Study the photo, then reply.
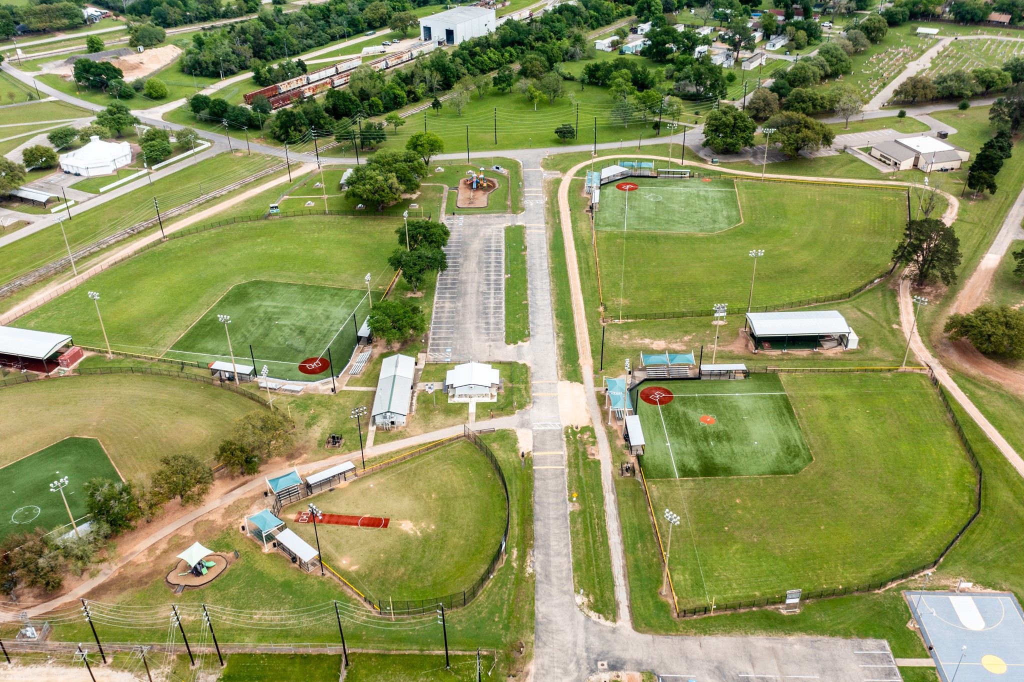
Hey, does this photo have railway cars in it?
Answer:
Yes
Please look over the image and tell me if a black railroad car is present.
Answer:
No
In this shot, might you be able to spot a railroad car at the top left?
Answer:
Yes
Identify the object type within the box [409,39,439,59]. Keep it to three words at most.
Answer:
rail car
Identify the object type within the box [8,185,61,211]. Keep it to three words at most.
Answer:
building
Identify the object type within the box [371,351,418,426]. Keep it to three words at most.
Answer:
building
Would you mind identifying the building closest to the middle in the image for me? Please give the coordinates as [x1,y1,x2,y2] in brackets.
[442,360,503,398]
